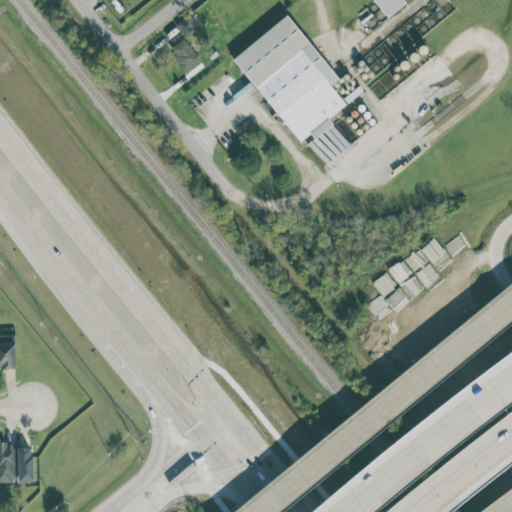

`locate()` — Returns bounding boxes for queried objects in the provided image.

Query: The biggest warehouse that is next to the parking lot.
[233,15,348,142]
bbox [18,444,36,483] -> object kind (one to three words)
house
